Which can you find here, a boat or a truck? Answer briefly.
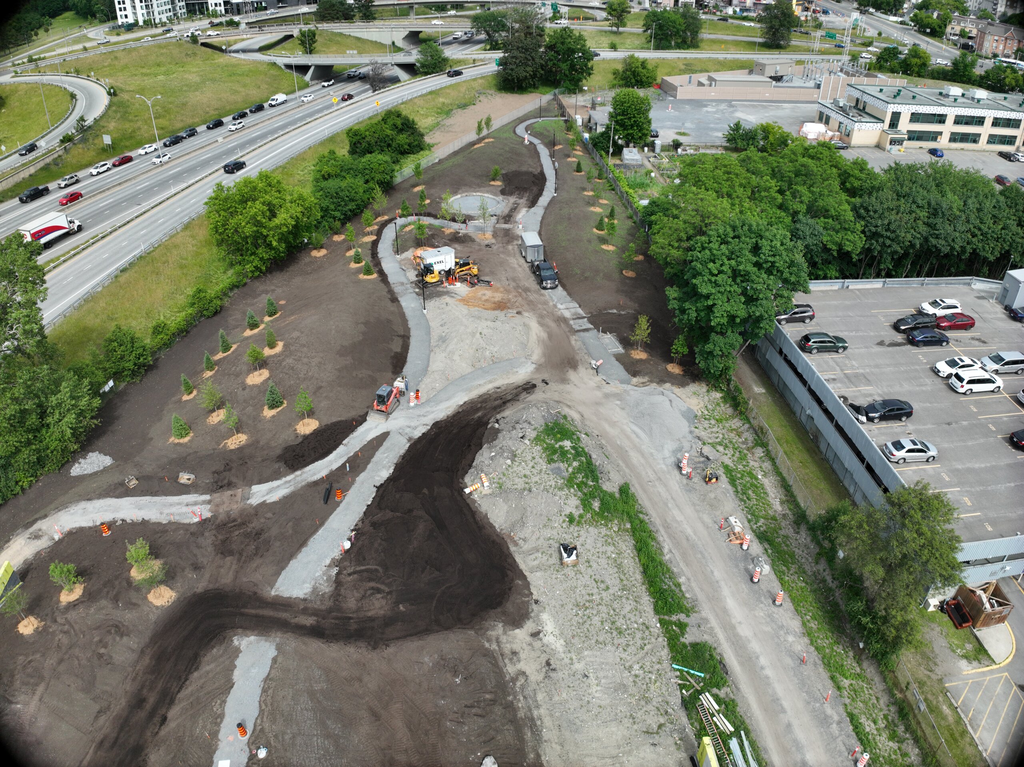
truck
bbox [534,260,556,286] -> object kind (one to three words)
truck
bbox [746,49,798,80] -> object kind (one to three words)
shed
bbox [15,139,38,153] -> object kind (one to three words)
car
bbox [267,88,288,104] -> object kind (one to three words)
vehicle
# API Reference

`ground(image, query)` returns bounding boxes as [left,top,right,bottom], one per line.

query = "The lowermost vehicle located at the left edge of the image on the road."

[19,214,80,248]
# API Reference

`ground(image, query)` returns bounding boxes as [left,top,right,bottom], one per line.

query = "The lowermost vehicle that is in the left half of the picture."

[369,386,404,422]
